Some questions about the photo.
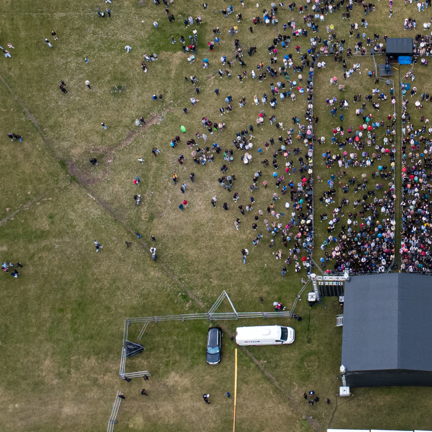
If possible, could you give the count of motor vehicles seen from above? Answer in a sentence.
Altogether the scene contains 2 motor vehicles.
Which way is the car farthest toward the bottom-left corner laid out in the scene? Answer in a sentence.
In this picture, the car farthest toward the bottom-left corner is oriented vertically.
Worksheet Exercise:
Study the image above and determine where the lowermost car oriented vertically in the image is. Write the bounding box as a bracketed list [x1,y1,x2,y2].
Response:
[203,326,224,367]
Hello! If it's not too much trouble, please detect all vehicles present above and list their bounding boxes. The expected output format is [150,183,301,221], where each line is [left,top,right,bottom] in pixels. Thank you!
[236,325,295,346]
[203,326,224,367]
